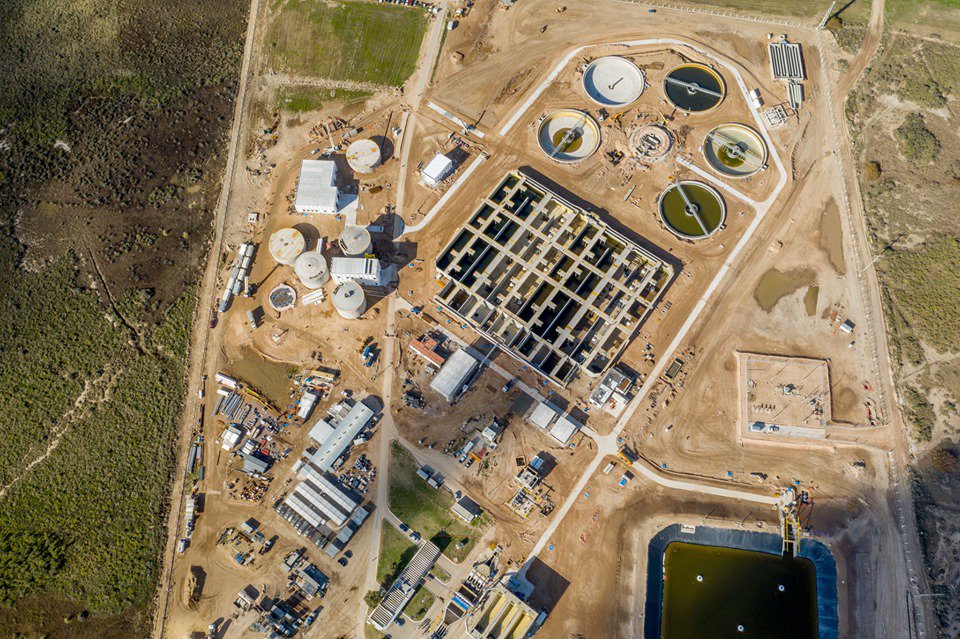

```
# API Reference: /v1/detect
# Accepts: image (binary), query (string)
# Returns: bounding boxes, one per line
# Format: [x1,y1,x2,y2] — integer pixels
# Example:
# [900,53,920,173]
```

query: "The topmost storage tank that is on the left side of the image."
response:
[346,141,382,176]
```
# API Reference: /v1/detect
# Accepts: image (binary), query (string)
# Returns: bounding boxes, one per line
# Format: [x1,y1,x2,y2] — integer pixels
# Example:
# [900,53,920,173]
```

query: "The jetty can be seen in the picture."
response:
[780,498,802,557]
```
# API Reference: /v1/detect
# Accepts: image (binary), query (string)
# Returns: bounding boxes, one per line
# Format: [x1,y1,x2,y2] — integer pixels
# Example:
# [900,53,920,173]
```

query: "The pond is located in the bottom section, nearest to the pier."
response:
[644,524,841,639]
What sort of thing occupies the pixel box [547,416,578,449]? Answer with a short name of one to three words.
building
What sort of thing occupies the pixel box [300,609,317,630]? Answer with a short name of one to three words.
vehicle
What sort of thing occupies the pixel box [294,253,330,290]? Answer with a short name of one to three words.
storage tank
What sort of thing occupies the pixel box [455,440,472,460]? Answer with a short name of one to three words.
vehicle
